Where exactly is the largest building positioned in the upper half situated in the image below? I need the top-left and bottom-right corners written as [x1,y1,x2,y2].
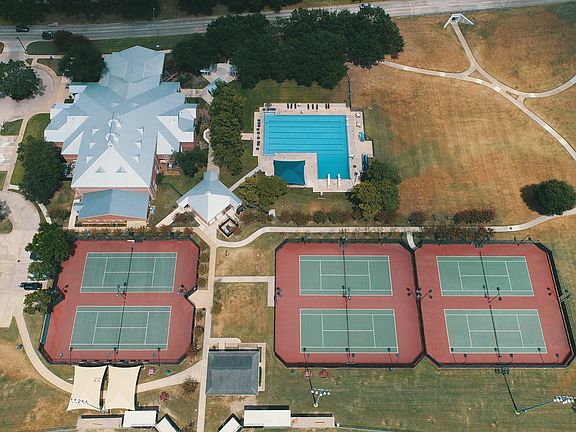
[51,44,196,230]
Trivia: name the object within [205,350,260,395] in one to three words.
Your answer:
building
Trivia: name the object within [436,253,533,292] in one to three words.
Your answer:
tennis court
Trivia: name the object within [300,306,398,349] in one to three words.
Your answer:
tennis court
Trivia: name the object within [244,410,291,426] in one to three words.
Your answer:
shed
